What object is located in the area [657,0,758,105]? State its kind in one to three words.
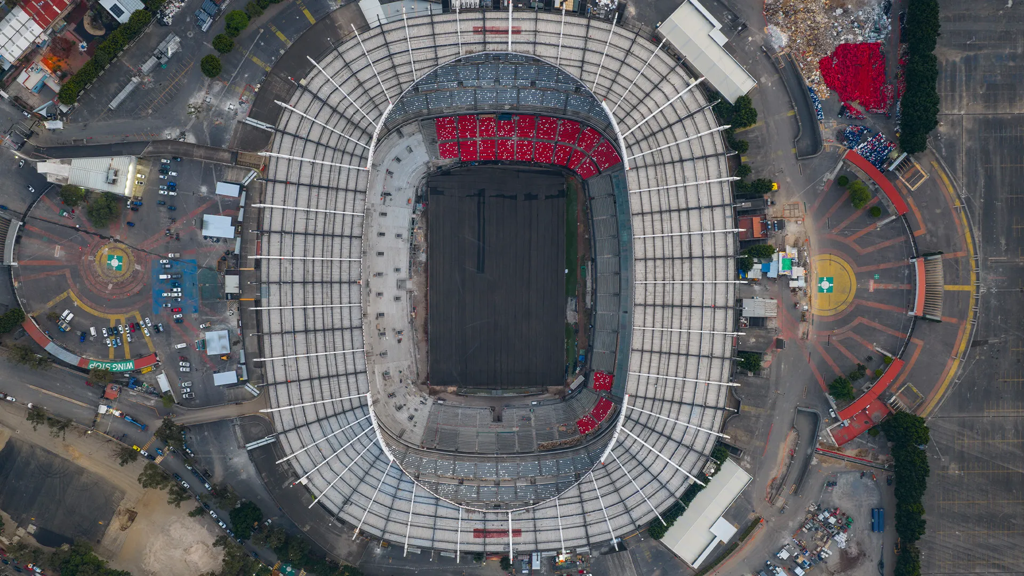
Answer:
building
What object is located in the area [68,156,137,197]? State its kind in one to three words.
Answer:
building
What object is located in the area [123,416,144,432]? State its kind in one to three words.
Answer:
vehicle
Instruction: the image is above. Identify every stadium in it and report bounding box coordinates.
[247,2,749,565]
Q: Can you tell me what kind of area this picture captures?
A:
sports ground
